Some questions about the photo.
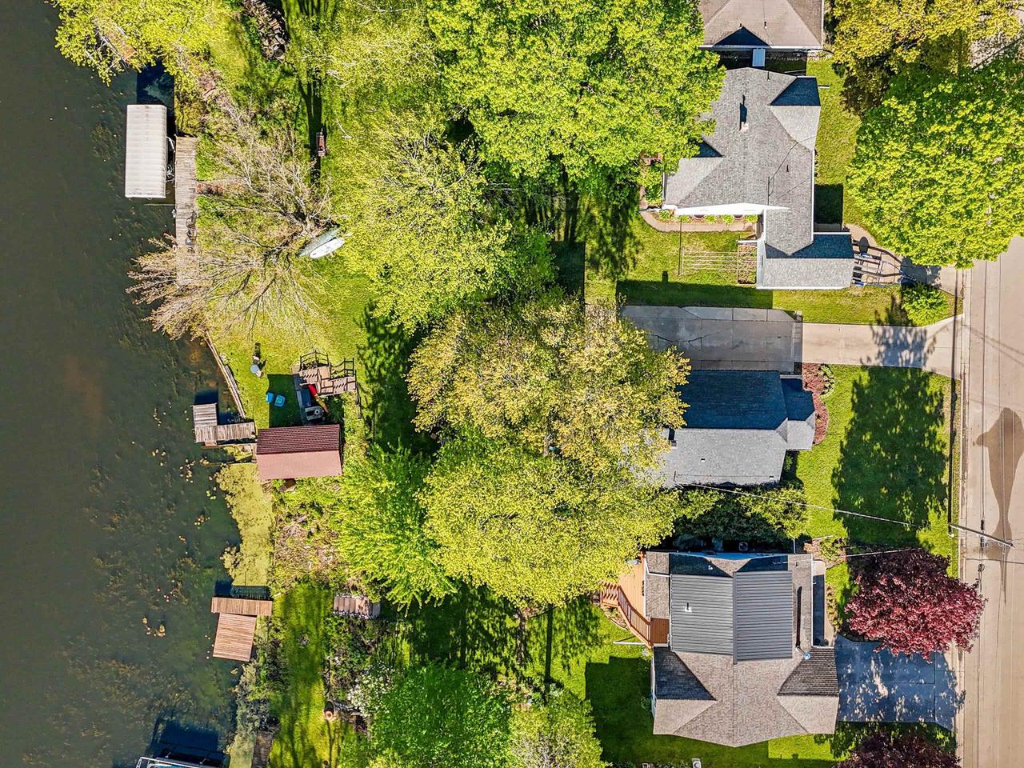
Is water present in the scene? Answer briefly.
Yes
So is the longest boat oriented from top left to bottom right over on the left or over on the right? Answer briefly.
left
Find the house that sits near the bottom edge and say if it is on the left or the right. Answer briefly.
right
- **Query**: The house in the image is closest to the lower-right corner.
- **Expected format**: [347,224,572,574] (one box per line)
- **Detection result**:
[614,551,841,747]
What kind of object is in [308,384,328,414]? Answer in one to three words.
boat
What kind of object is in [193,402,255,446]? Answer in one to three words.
pier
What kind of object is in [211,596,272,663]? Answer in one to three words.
pier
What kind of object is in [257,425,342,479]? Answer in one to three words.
building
